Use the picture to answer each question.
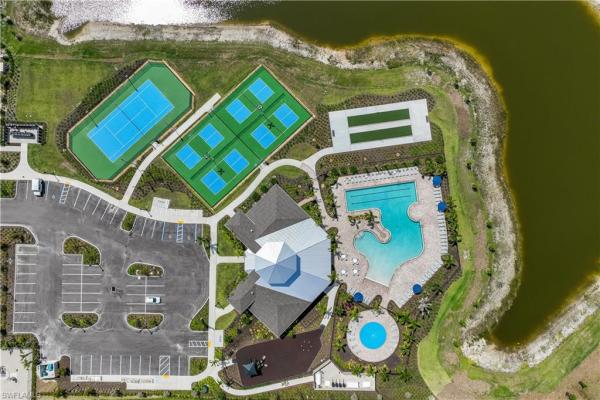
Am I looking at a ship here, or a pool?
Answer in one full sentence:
The image shows a pool.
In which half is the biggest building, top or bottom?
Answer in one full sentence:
You can find the biggest building in the bottom half.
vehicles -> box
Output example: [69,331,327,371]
[32,178,46,197]
[146,295,162,303]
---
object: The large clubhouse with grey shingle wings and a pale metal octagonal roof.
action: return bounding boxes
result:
[224,184,332,339]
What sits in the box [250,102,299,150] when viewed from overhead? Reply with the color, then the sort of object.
blue sports court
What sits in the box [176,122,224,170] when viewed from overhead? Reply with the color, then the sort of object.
blue sports court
